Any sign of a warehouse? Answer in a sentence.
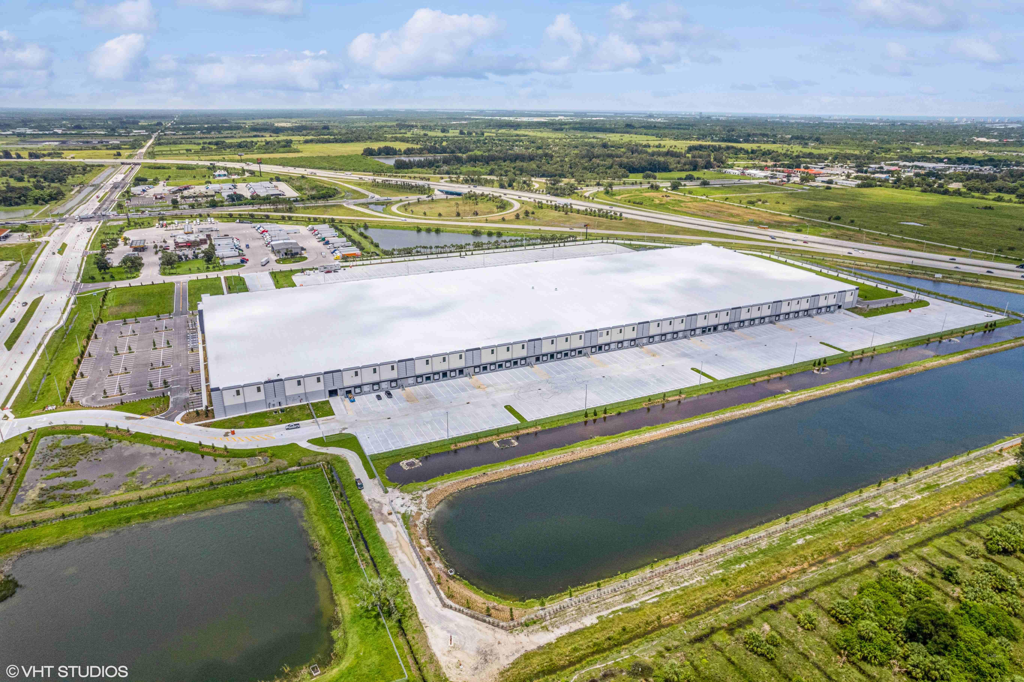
Yes, the frame does contain a warehouse.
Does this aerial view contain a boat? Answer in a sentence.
No, the photo shows no boat.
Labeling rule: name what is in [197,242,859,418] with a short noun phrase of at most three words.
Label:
warehouse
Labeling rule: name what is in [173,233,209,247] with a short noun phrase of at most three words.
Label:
building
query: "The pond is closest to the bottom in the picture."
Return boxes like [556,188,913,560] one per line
[0,496,337,682]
